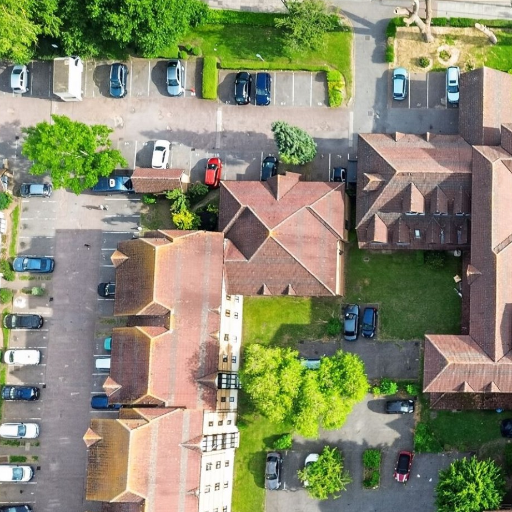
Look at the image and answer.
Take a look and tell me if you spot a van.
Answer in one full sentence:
Yes, there is a van in the image.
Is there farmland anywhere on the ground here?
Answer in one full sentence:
No, there is no farmland in the image.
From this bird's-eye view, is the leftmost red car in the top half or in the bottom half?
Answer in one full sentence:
You can find the leftmost red car in the top half.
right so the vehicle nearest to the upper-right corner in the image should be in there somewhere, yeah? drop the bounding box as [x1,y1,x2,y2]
[443,68,460,105]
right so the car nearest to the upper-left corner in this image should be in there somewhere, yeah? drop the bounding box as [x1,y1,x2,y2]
[9,64,32,97]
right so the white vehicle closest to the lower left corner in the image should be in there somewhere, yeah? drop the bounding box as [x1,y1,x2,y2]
[0,464,37,484]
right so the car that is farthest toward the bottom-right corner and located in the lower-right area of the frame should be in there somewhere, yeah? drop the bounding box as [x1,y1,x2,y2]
[395,450,413,480]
